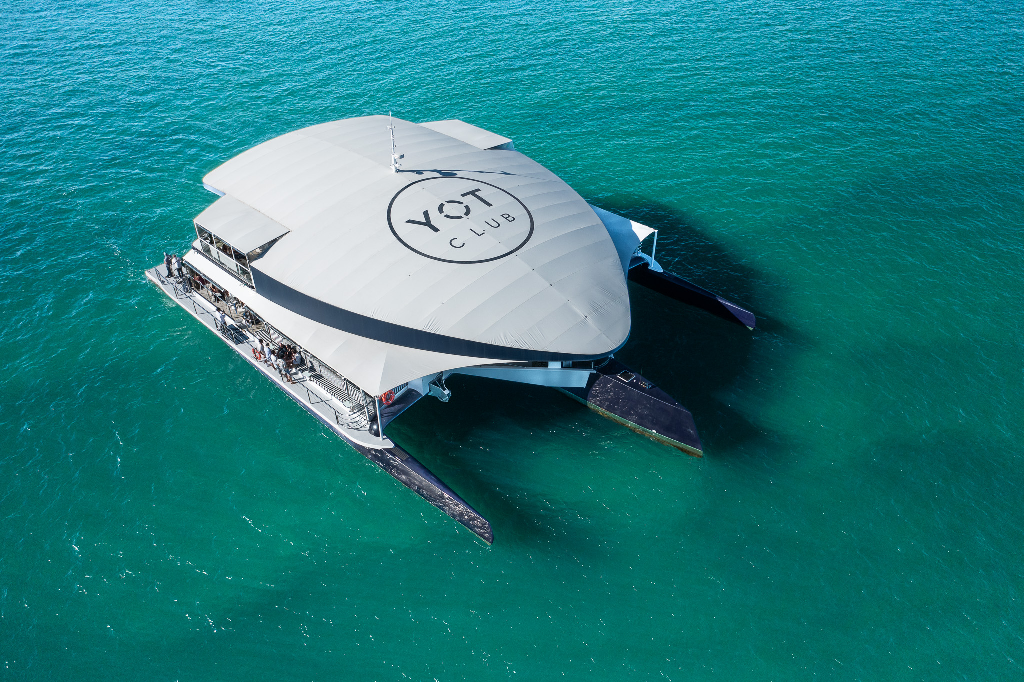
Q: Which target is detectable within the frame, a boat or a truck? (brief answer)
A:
boat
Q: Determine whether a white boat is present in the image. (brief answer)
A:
Yes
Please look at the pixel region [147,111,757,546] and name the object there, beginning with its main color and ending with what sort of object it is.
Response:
white boat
